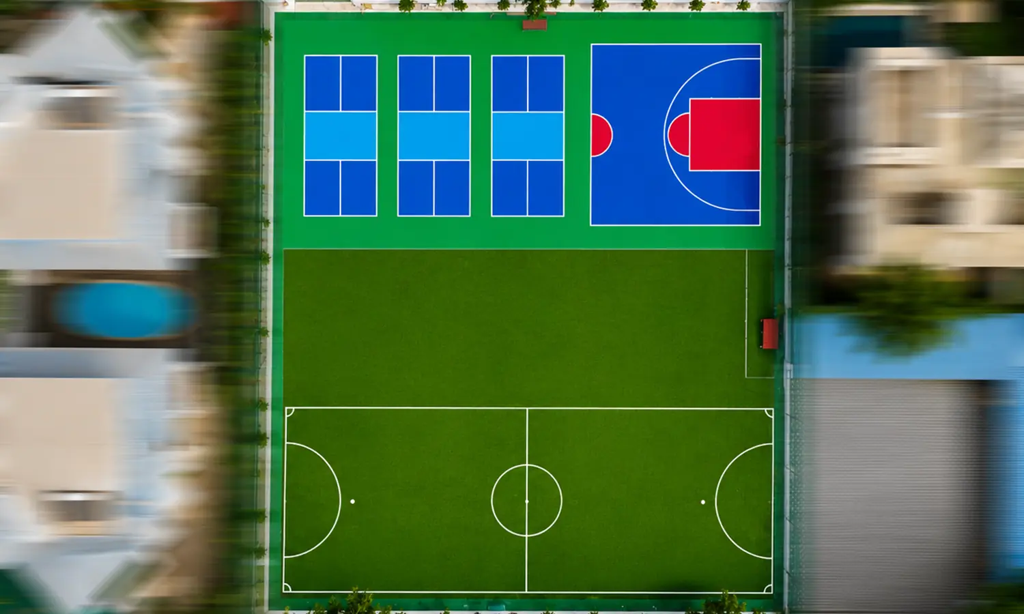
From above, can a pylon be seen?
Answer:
No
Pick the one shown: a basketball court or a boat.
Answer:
basketball court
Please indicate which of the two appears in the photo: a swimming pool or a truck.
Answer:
swimming pool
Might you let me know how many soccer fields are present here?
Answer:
one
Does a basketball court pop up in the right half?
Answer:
Yes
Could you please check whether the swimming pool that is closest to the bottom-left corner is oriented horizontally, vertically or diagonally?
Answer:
horizontally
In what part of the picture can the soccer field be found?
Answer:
bottom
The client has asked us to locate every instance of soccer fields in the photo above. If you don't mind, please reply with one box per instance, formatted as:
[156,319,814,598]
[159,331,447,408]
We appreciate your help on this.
[283,407,774,594]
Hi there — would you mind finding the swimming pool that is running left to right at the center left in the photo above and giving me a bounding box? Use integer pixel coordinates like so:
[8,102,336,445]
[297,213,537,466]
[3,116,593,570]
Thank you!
[51,279,197,339]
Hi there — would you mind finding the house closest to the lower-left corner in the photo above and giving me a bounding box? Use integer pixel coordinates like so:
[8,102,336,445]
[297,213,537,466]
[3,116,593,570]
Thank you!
[0,348,199,610]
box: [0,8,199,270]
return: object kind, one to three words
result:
house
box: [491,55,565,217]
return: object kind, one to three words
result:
sports court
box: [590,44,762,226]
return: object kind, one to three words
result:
basketball court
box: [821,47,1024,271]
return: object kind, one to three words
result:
house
